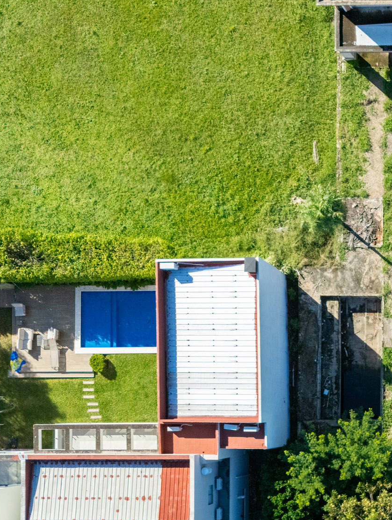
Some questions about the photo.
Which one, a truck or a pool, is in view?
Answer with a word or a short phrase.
pool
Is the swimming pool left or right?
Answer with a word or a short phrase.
left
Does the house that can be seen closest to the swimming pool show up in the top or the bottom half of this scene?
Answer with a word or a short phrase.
bottom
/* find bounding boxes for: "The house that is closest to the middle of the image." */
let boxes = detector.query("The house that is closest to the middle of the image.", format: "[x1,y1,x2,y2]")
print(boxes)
[157,257,293,454]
